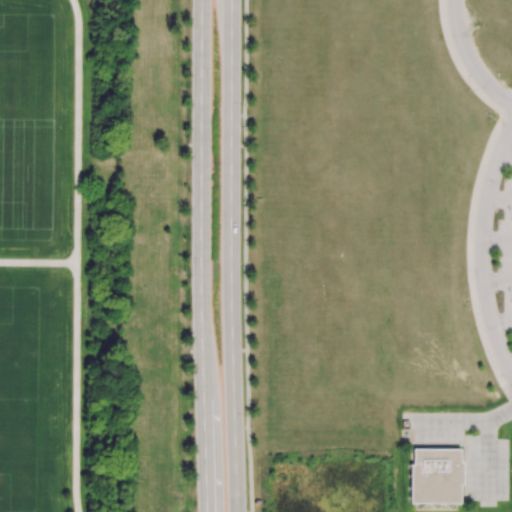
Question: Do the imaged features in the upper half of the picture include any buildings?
No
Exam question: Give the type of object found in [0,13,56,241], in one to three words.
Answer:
soccer field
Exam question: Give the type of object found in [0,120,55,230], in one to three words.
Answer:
sports field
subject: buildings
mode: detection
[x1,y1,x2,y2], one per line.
[409,449,466,506]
